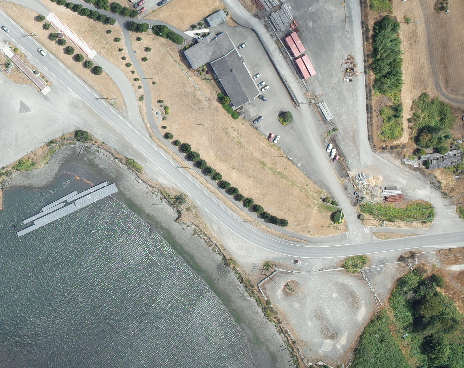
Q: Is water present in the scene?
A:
Yes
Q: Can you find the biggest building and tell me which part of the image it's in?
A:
top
